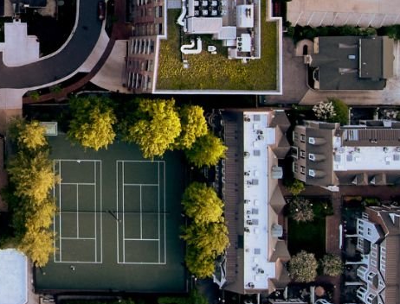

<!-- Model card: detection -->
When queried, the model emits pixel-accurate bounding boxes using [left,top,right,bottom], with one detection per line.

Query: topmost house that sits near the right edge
[294,36,394,90]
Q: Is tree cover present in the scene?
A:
Yes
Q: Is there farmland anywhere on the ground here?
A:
No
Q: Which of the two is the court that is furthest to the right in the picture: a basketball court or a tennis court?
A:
tennis court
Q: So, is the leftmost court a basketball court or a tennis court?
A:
tennis court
